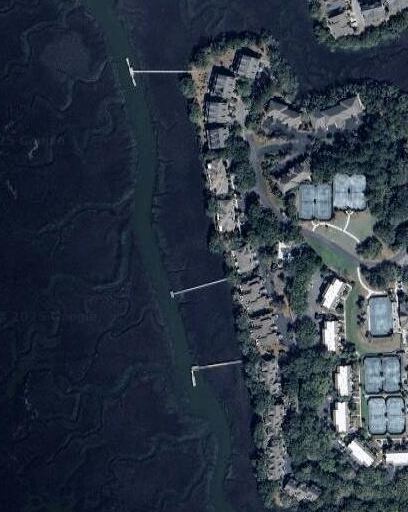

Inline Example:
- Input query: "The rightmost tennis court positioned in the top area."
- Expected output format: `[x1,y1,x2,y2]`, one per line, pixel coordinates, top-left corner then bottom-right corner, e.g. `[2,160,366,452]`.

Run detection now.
[350,174,366,210]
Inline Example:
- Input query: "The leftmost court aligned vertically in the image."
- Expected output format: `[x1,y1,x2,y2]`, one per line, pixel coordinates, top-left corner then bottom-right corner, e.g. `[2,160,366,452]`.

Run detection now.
[299,183,315,221]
